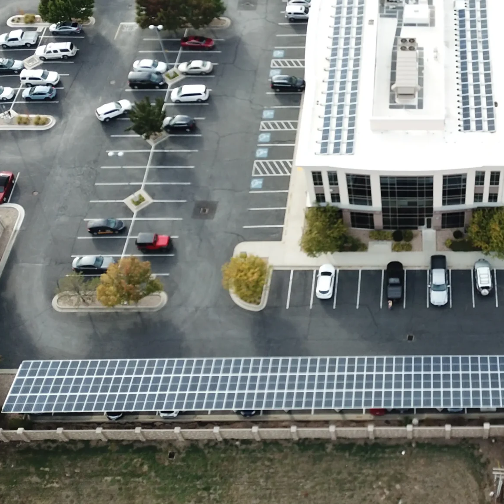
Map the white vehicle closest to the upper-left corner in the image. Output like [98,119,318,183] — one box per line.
[0,30,40,48]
